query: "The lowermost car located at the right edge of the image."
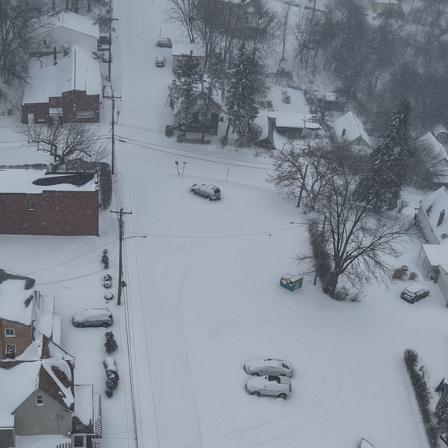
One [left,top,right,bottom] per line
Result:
[403,280,430,304]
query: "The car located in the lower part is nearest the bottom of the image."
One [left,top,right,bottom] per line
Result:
[246,378,294,402]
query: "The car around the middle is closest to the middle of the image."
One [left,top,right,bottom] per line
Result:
[191,183,223,200]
